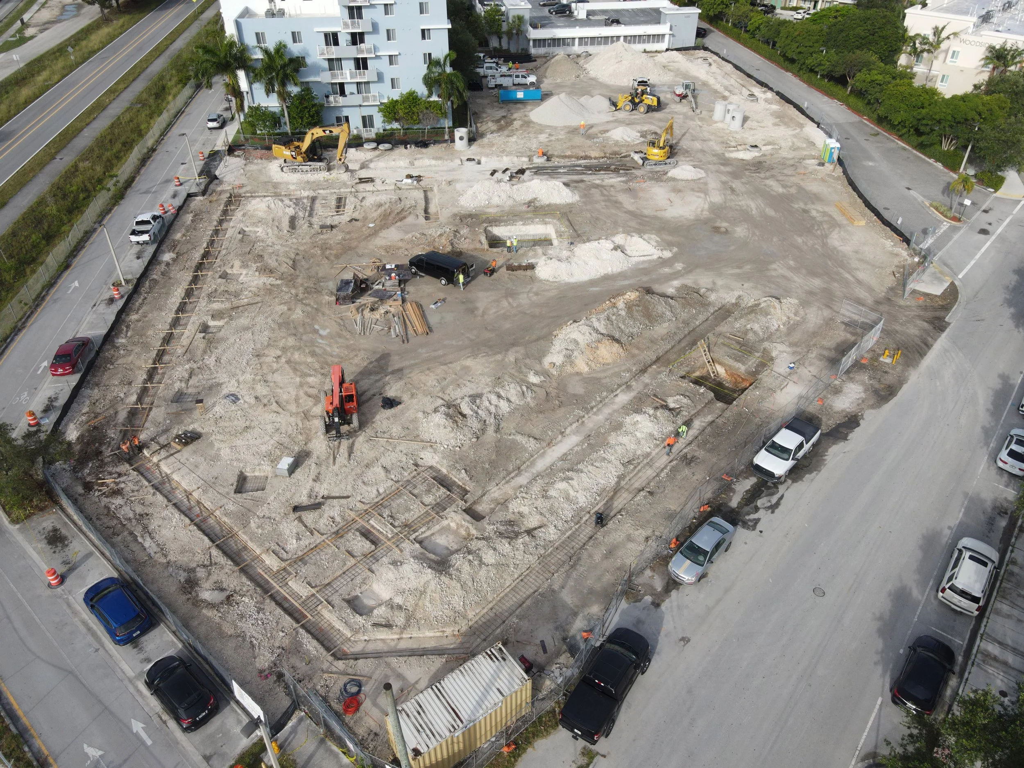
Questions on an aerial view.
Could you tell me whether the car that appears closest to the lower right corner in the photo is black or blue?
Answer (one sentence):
In this view, the car that appears closest to the lower right corner is black.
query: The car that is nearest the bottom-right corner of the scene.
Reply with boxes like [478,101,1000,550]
[896,625,967,712]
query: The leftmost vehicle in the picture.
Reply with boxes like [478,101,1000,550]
[48,328,96,366]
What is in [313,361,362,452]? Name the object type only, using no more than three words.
work vehicle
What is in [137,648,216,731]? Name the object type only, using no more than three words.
car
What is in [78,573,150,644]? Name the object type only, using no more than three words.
car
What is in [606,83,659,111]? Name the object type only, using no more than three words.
work vehicle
